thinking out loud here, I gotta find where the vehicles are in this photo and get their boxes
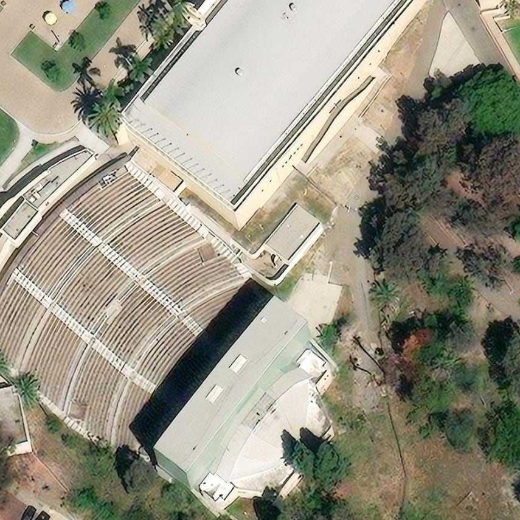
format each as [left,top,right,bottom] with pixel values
[36,507,51,520]
[22,503,36,520]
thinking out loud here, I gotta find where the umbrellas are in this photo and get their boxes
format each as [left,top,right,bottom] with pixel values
[44,11,58,24]
[63,0,75,13]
